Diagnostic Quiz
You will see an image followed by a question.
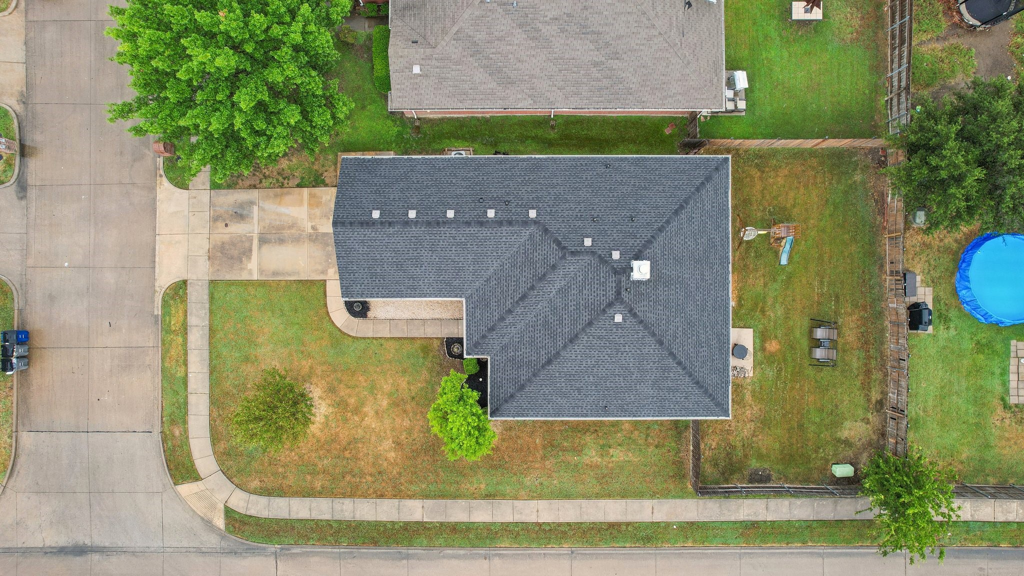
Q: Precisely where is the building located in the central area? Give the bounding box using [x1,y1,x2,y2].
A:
[332,154,733,421]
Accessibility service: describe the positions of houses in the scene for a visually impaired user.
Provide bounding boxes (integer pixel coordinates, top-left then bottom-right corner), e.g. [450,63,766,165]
[263,0,726,122]
[332,154,733,421]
